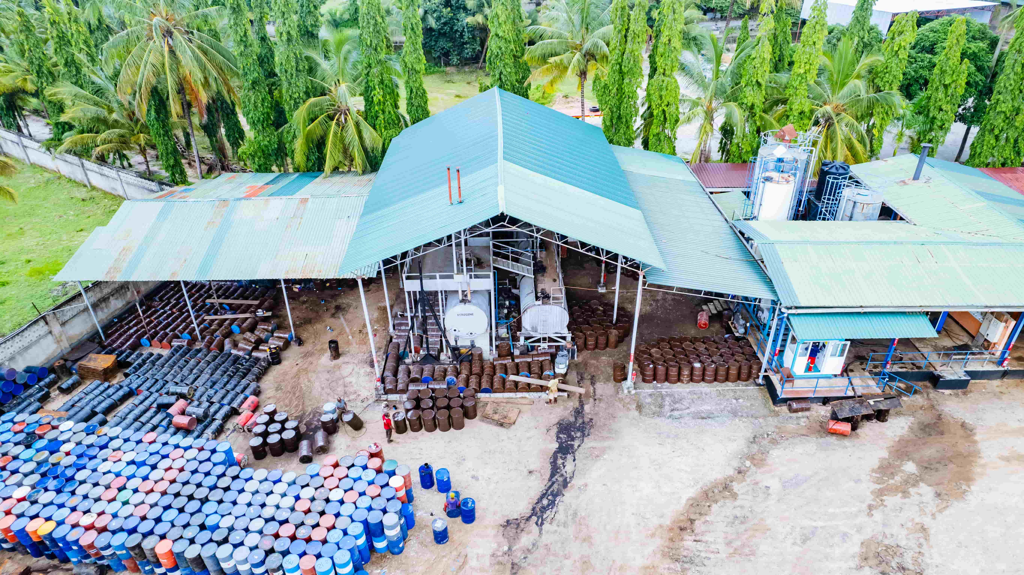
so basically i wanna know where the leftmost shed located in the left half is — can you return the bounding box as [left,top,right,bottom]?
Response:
[54,171,393,341]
